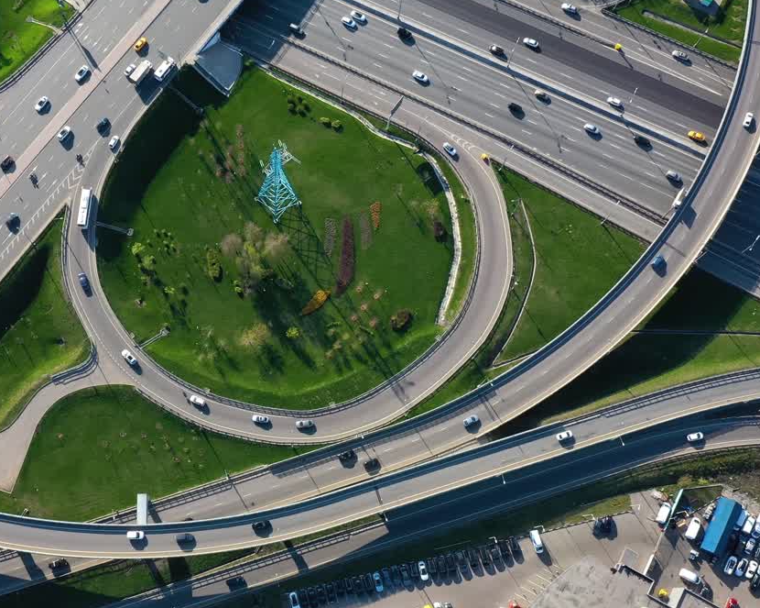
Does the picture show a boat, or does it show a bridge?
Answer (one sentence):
Of the two, only a bridge appears.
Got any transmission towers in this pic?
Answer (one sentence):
Yes, a transmission tower can be made out from above.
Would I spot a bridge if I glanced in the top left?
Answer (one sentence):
Yes, a bridge can be seen in the top left.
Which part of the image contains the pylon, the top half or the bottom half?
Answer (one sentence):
The top half of the photo is where the pylon is.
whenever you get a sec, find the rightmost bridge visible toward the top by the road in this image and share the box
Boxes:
[552,0,760,373]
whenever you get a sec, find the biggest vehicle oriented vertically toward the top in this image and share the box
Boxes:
[74,185,93,235]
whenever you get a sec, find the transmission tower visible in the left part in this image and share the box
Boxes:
[254,142,301,222]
